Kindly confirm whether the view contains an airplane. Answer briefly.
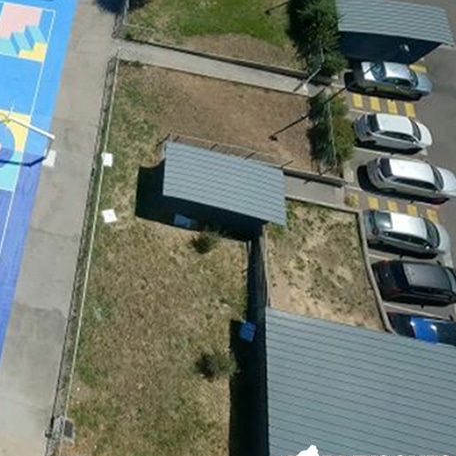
No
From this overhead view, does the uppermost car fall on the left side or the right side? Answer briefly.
right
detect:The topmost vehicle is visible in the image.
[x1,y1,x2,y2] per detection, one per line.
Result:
[344,64,432,104]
